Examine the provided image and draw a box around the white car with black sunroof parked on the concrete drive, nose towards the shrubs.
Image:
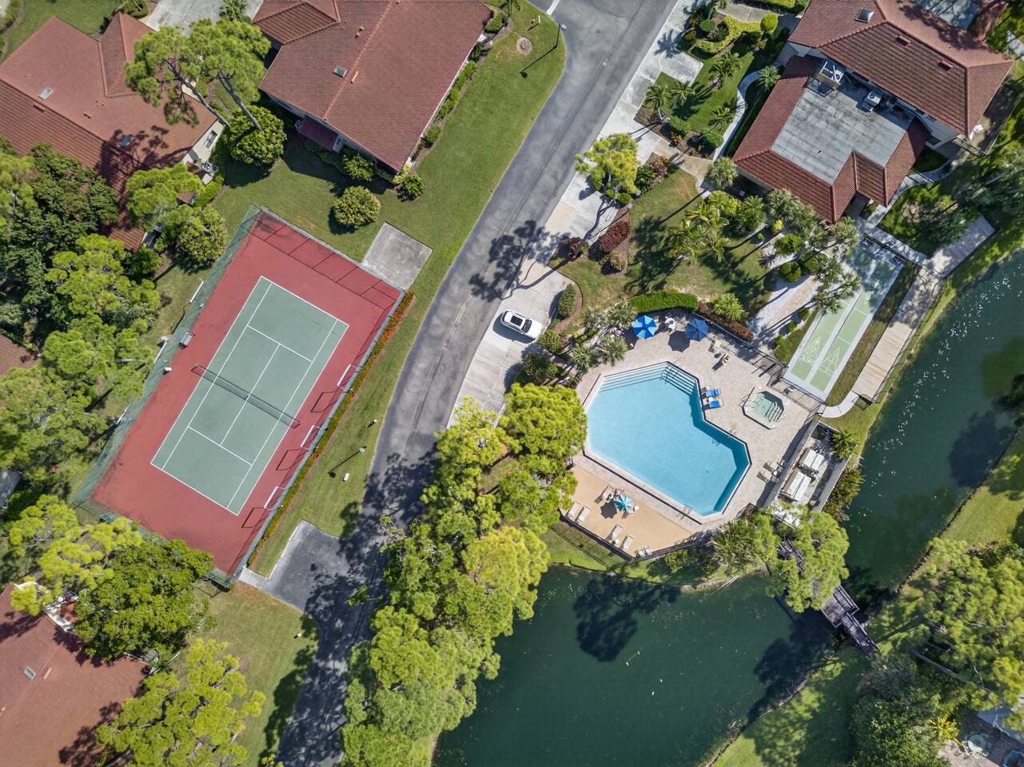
[500,308,543,339]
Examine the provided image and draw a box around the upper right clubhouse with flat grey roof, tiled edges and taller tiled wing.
[734,0,1014,221]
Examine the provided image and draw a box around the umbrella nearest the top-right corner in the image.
[684,317,708,341]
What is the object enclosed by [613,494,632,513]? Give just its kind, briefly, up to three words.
umbrella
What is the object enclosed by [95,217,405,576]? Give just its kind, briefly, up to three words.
tennis court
